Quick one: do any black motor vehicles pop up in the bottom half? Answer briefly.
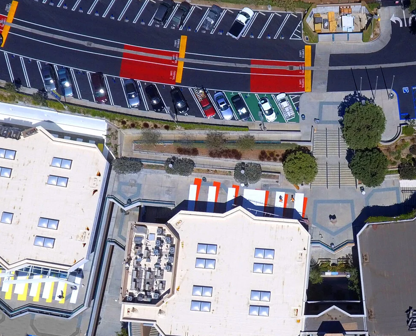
No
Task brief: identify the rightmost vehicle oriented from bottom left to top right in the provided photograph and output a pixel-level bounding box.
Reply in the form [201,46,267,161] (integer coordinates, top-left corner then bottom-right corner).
[227,6,255,39]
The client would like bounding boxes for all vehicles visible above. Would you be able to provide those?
[152,0,176,25]
[230,92,252,121]
[170,1,192,28]
[145,83,165,112]
[57,66,76,95]
[259,95,278,123]
[40,64,58,92]
[227,6,255,39]
[274,89,297,122]
[214,91,235,119]
[199,2,225,33]
[126,79,141,107]
[170,87,190,114]
[90,72,109,103]
[189,85,218,121]
[314,11,323,33]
